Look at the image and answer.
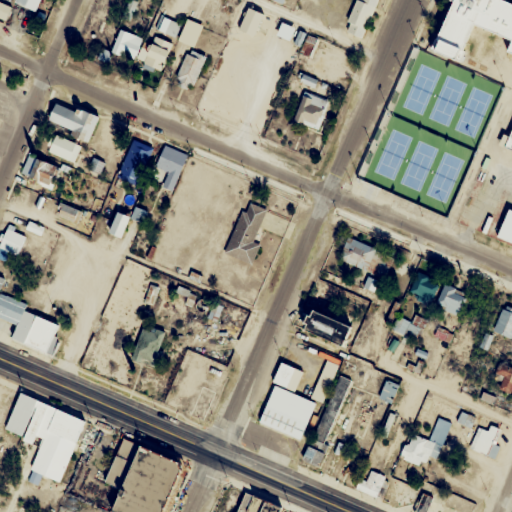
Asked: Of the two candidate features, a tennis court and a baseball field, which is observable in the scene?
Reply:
tennis court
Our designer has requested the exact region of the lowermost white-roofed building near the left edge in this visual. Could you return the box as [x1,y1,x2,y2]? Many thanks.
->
[4,394,85,485]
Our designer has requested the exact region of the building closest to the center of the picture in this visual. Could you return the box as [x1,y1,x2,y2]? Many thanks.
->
[225,202,267,260]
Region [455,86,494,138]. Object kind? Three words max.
tennis court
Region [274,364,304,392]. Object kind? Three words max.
building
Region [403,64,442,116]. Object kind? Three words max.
tennis court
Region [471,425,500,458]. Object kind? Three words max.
house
